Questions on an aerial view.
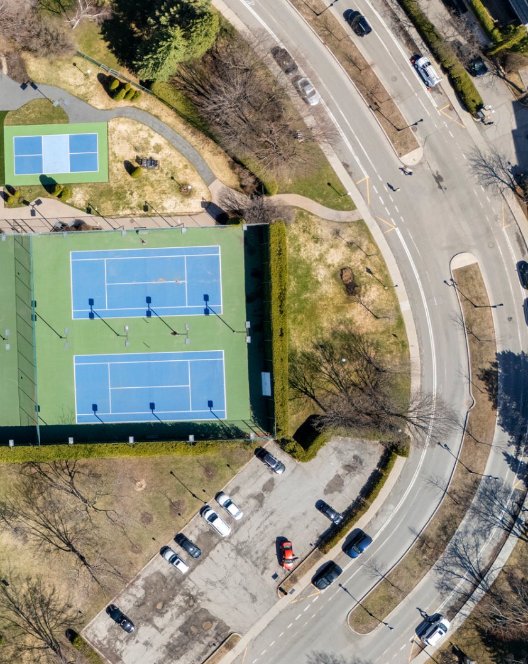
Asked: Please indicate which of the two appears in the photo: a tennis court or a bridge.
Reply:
tennis court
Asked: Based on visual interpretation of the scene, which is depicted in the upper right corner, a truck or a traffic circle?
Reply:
truck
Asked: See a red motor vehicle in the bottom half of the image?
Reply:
Yes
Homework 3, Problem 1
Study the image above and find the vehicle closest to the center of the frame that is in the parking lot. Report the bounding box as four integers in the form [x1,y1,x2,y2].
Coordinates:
[255,447,284,474]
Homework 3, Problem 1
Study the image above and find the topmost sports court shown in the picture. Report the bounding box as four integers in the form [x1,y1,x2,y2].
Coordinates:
[4,121,108,185]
